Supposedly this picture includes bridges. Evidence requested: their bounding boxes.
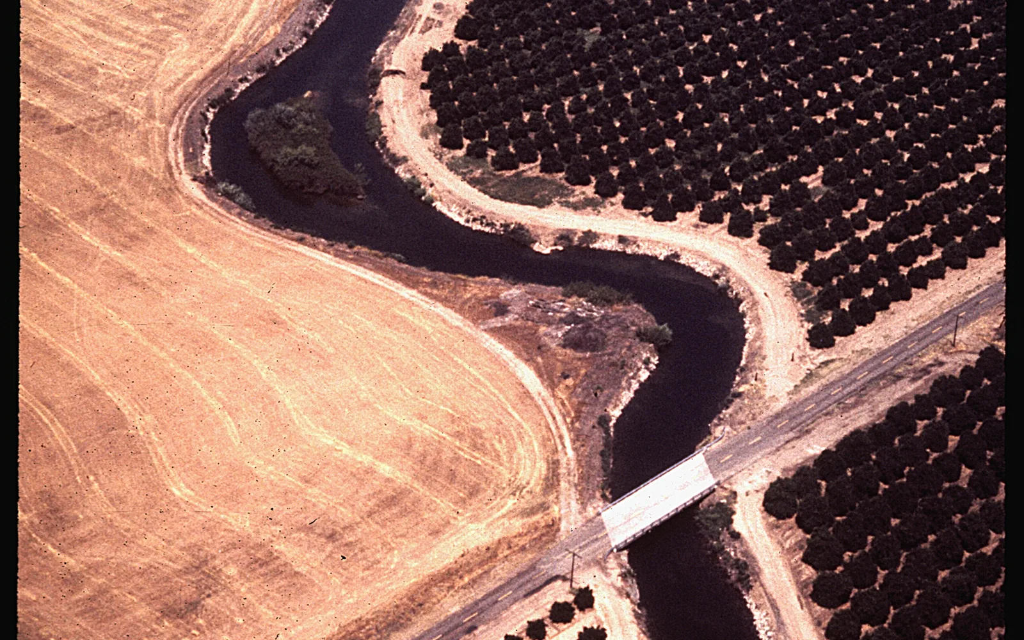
[601,450,717,553]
